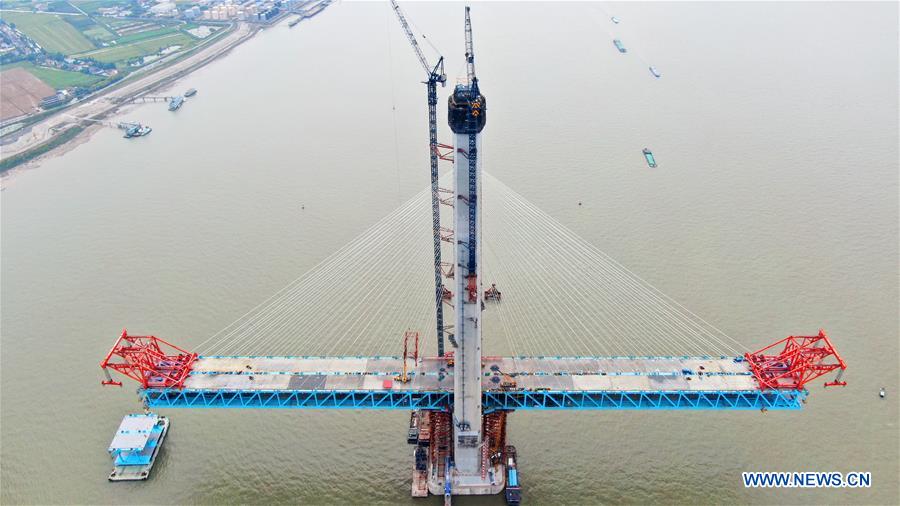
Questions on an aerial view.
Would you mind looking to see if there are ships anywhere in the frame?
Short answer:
Yes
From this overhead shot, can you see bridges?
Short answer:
Yes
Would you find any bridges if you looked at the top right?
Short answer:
No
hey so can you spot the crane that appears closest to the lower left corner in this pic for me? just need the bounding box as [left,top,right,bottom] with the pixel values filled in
[98,327,199,391]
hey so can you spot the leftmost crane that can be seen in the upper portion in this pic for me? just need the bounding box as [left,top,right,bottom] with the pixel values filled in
[381,0,454,355]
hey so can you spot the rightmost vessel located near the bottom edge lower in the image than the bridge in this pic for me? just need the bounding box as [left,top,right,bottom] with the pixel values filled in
[504,444,522,504]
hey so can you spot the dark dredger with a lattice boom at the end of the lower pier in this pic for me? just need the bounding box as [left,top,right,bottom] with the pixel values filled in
[115,120,149,139]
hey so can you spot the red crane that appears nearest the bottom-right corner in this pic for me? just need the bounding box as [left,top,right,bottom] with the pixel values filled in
[745,327,846,391]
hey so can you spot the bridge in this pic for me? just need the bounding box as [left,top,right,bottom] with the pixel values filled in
[145,184,802,410]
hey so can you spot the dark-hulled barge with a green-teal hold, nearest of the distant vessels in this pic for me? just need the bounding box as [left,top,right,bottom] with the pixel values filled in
[642,148,659,166]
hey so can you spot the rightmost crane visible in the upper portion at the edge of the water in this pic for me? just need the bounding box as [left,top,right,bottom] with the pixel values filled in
[459,5,480,330]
